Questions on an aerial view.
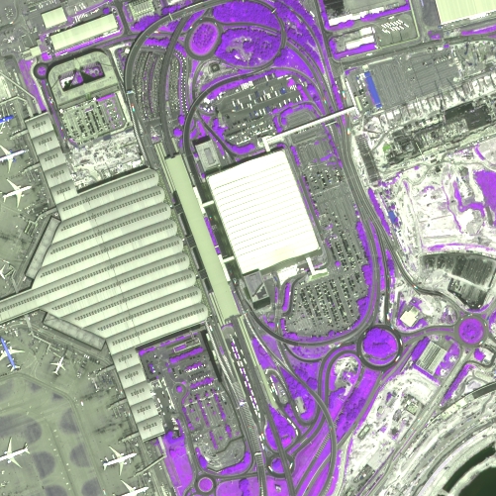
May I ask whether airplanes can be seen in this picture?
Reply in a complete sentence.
Yes, you can see an airplane in this photo.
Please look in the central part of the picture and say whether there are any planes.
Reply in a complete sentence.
No, there's no plane to be seen in the central part of the picture.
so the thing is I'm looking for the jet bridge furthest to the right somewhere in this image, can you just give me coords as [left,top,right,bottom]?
[134,437,167,478]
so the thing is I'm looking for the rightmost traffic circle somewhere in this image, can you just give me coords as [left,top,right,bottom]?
[454,313,489,348]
